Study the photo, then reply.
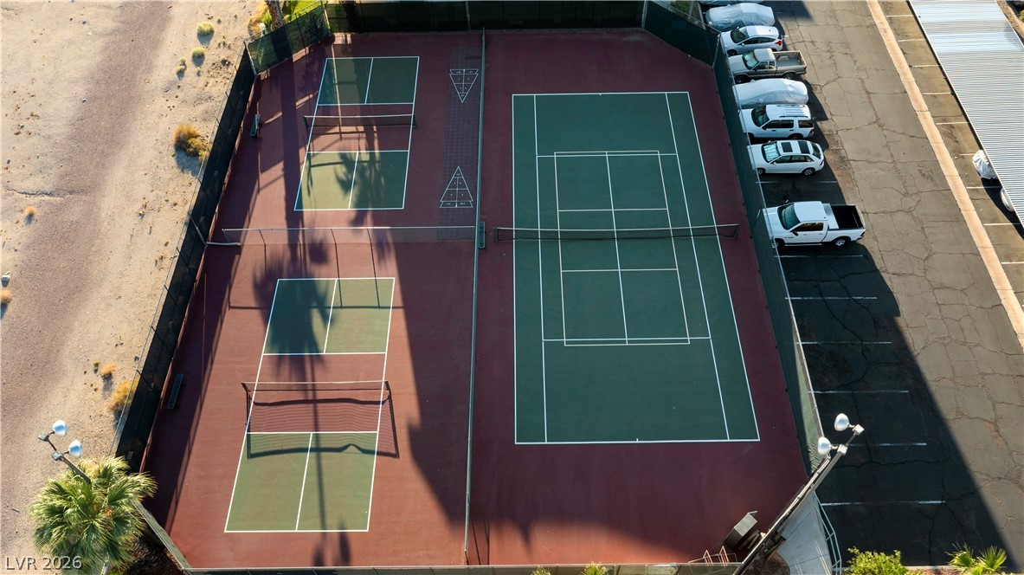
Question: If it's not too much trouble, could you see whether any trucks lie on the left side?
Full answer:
No, no truck can be made out on the left side.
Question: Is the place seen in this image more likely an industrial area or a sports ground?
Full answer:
The picture captures a sports ground.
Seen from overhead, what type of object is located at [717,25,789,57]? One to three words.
car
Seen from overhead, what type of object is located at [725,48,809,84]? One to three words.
truck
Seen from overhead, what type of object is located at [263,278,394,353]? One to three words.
sports court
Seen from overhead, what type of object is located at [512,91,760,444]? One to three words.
tennis court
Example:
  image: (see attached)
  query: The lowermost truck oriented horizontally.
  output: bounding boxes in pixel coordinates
[762,201,865,246]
